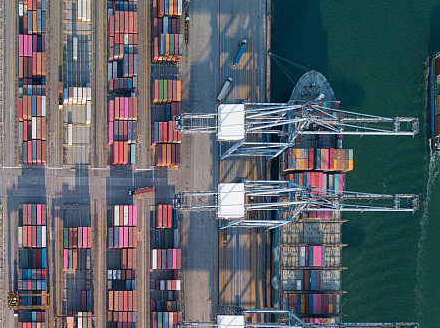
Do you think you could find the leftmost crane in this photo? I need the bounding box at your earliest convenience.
[5,289,52,310]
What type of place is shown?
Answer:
port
